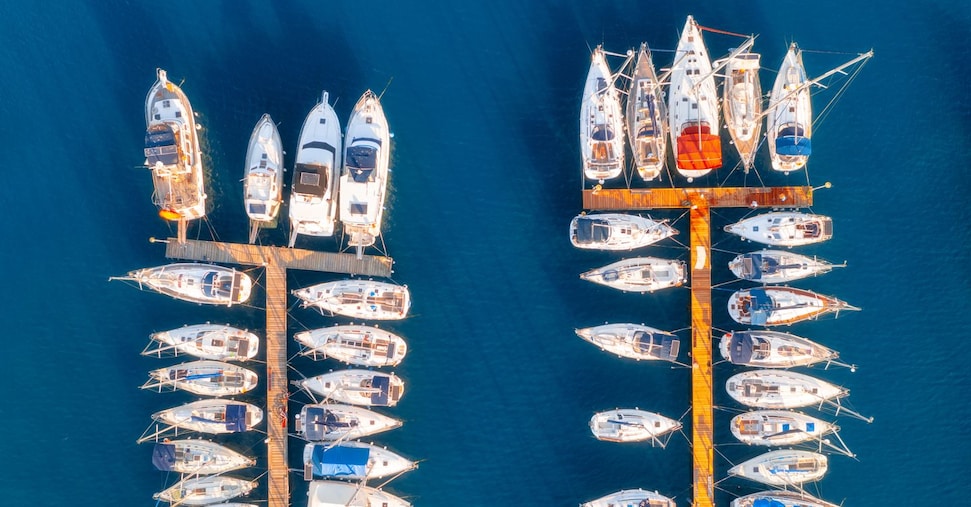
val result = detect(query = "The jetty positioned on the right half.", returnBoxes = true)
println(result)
[583,187,812,507]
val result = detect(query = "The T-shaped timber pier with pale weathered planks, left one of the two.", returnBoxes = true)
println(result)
[166,238,394,507]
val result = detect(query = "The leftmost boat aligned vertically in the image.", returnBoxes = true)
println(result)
[130,66,213,244]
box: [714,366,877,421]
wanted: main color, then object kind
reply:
white boat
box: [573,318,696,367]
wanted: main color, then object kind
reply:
white boat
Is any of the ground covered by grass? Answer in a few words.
No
